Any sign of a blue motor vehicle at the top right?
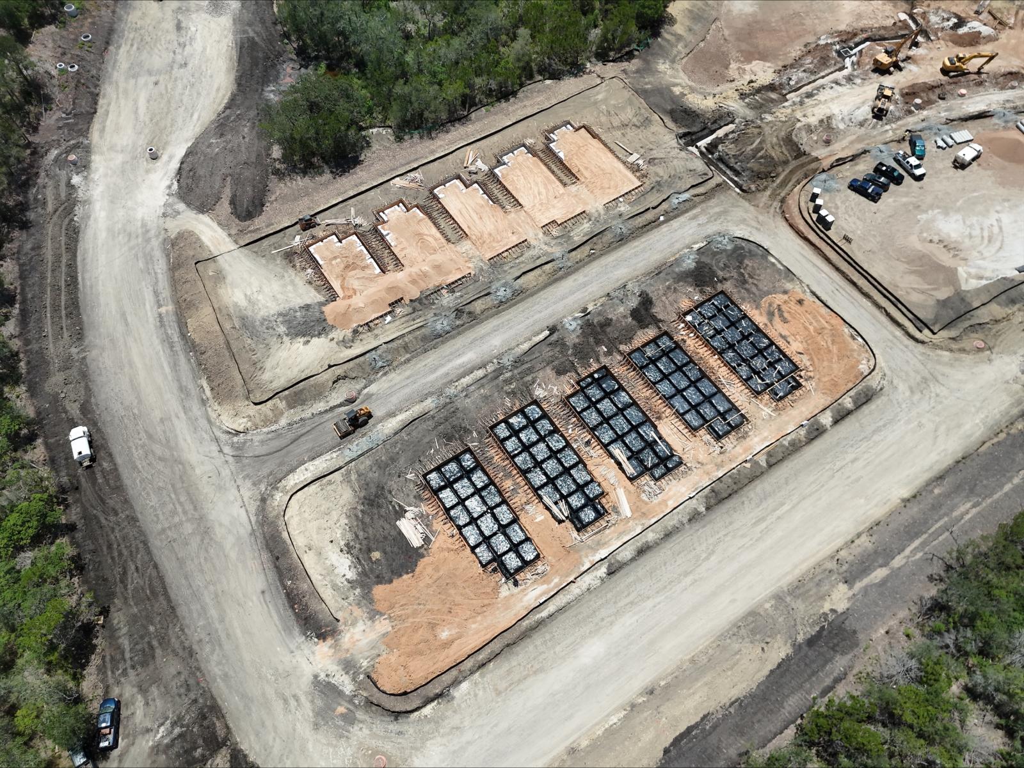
Yes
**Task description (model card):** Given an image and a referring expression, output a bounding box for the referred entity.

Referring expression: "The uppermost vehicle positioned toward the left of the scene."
[301,213,326,229]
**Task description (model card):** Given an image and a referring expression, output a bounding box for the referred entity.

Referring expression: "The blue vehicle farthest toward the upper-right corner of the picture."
[908,134,927,159]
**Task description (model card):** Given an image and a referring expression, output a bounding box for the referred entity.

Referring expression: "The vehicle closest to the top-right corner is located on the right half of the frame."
[938,45,997,80]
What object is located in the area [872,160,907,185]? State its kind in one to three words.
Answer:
truck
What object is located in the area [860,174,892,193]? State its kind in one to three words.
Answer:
car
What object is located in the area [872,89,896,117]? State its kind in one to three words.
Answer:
work vehicle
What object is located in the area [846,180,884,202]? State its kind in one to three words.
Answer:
truck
